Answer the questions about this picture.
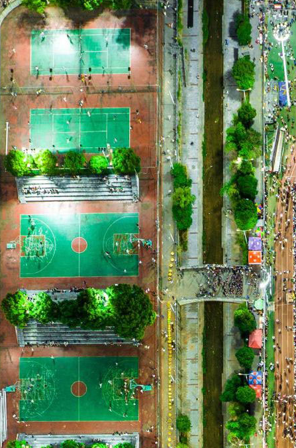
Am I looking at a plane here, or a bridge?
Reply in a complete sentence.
It is a bridge that can be seen here.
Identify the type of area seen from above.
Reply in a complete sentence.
The area seen from above is a sports ground.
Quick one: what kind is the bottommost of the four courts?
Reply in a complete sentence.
The bottommost of the four courts in the image is a basketball court.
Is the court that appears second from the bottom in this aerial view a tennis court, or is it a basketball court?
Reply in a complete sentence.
I'd identify the court that appears second from the bottom as a basketball court.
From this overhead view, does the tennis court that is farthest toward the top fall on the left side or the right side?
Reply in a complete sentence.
The tennis court that is farthest toward the top sits on the left side.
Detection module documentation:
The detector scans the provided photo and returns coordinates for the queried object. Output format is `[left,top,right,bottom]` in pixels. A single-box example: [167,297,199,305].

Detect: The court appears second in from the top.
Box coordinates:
[30,102,130,152]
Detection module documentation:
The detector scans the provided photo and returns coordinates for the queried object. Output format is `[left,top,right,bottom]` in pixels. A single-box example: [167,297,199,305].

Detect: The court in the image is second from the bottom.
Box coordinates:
[20,213,138,278]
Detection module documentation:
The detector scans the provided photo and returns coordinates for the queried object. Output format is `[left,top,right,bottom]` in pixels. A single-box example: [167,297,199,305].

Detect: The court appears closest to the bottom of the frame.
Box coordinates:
[19,356,138,421]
